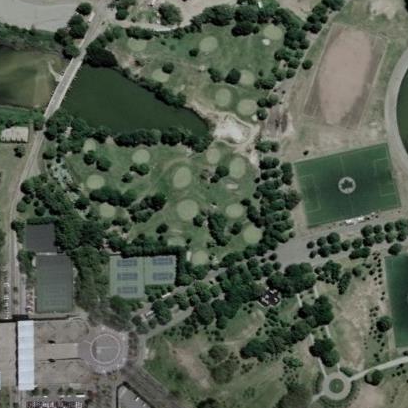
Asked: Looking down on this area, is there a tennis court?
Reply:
Yes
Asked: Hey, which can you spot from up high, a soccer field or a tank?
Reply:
soccer field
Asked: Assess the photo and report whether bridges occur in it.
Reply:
Yes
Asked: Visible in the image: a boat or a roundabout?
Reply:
roundabout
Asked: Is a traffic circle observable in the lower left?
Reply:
Yes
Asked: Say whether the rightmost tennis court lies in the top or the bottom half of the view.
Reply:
bottom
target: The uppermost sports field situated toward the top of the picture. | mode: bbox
[303,23,388,130]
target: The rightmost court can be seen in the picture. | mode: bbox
[143,256,176,284]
